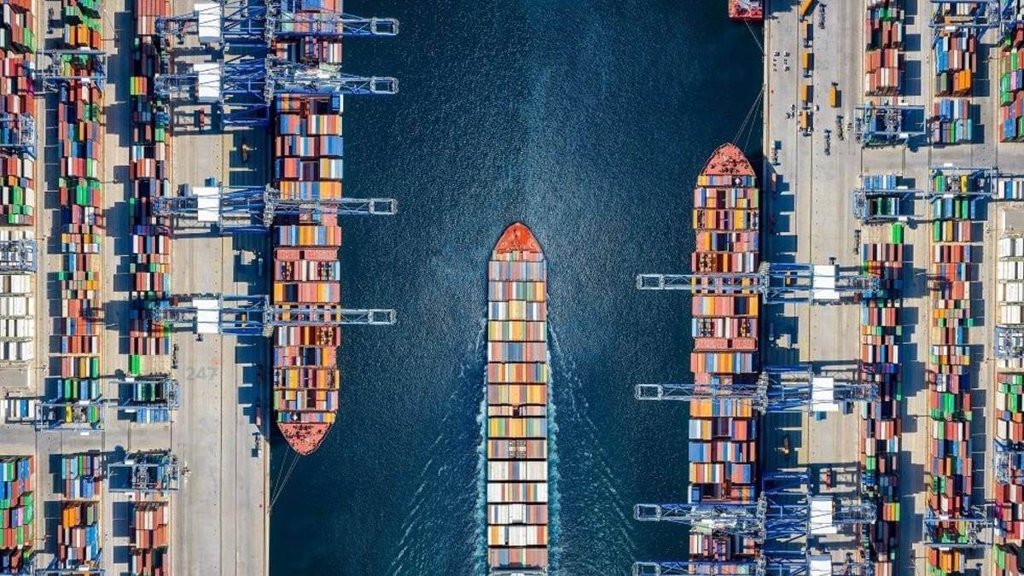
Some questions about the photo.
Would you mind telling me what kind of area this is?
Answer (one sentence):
What you see here is a port.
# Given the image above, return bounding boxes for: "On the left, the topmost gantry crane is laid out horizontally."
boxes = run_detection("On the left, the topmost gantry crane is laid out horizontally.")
[153,5,395,64]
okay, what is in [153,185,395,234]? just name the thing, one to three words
container crane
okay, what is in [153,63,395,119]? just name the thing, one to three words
container crane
